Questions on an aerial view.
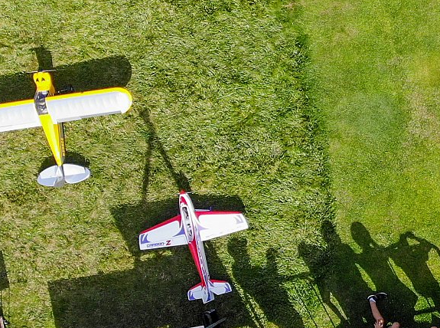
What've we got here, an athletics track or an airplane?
airplane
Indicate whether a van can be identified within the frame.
No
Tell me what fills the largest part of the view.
grass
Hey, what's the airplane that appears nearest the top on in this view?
grass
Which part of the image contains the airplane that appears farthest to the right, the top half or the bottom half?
bottom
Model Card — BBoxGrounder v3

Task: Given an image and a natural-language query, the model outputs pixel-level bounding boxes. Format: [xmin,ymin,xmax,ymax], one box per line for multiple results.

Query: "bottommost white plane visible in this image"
[140,190,248,305]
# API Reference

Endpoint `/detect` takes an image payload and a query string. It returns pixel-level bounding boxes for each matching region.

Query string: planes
[0,69,134,189]
[140,190,248,305]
